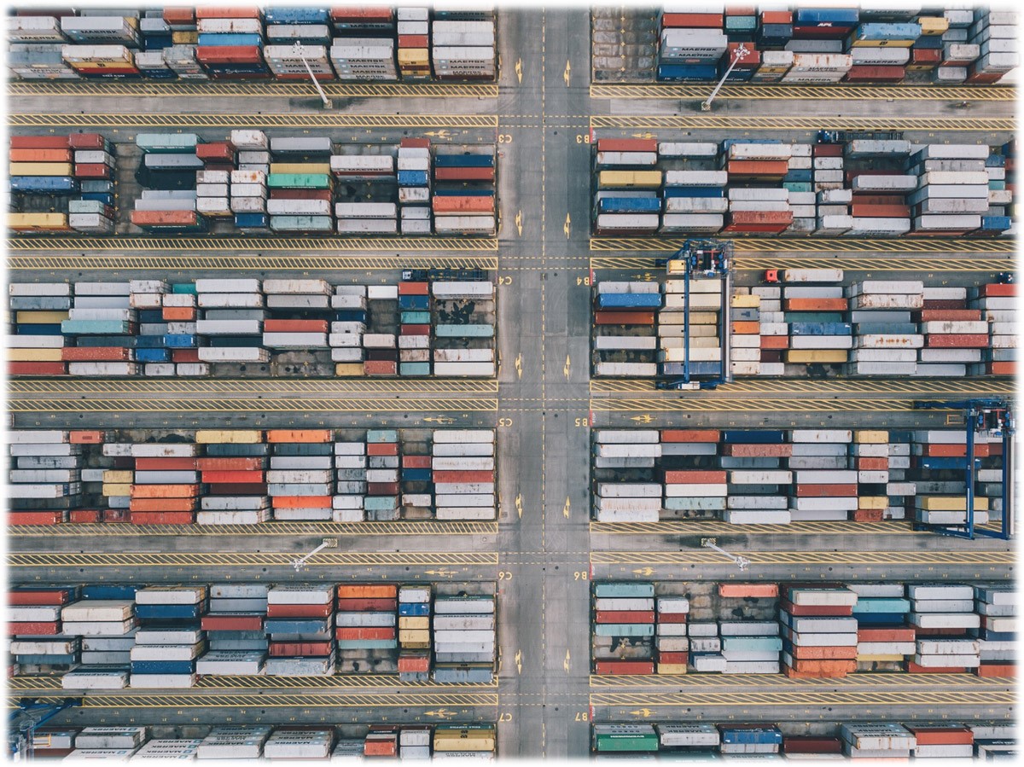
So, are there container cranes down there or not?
Yes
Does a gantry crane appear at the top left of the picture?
No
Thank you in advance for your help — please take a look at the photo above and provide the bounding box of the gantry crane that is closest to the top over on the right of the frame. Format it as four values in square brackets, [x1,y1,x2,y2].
[648,239,739,389]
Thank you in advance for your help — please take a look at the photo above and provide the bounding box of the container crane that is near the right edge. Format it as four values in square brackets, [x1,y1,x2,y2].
[896,401,1021,545]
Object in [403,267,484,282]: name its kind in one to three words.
vehicle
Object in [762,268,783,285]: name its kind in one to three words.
vehicle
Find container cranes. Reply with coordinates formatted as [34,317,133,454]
[648,239,739,389]
[896,401,1021,545]
[0,700,99,767]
